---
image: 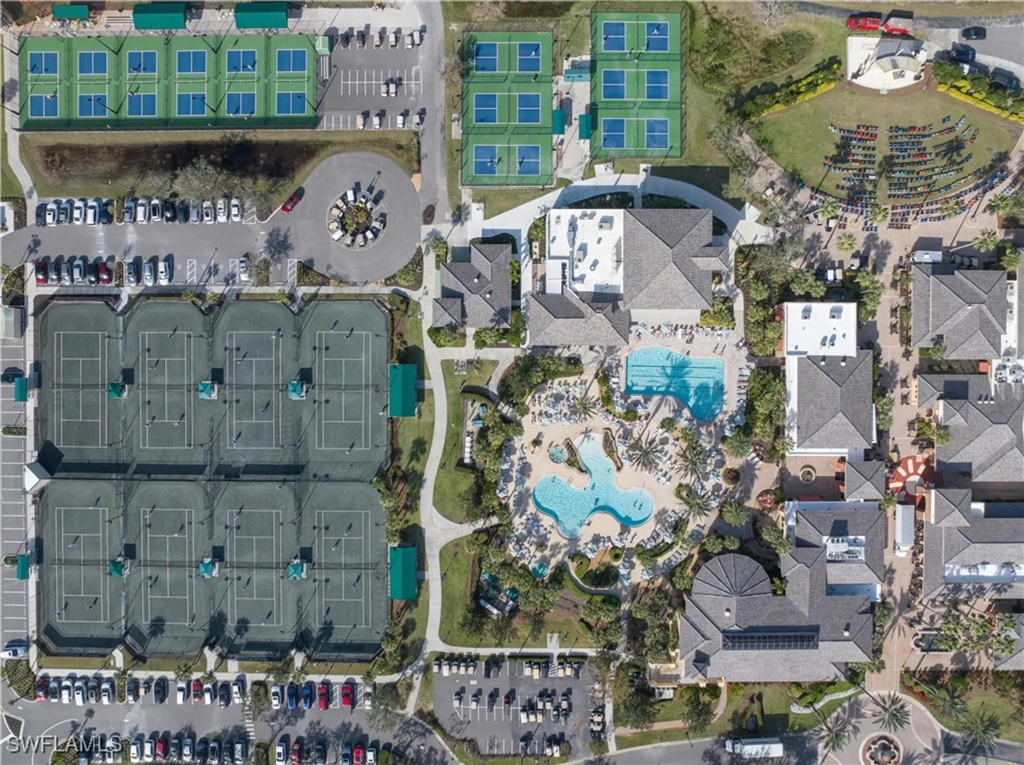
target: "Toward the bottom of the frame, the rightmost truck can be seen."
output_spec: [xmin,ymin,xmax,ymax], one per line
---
[892,504,915,556]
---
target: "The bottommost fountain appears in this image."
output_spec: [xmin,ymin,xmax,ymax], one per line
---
[860,732,905,765]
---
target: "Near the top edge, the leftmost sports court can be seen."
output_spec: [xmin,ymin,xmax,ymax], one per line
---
[19,35,68,125]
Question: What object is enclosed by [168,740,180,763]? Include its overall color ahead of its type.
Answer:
gray vehicle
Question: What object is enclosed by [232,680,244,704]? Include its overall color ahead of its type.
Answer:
white vehicle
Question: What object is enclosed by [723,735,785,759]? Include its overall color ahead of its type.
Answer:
white truck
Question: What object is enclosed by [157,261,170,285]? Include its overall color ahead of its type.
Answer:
white vehicle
